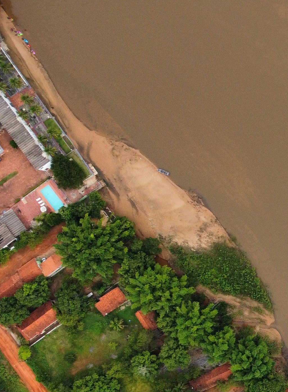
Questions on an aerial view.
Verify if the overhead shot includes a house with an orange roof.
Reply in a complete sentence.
Yes, the image includes a house with an orange roof.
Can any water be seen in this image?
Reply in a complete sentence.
Yes, there's water in this view.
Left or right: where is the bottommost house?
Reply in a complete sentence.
The bottommost house appears in the right half of the scene.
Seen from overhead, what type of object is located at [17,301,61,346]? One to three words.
house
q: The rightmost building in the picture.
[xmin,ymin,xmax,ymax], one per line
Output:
[192,363,235,392]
